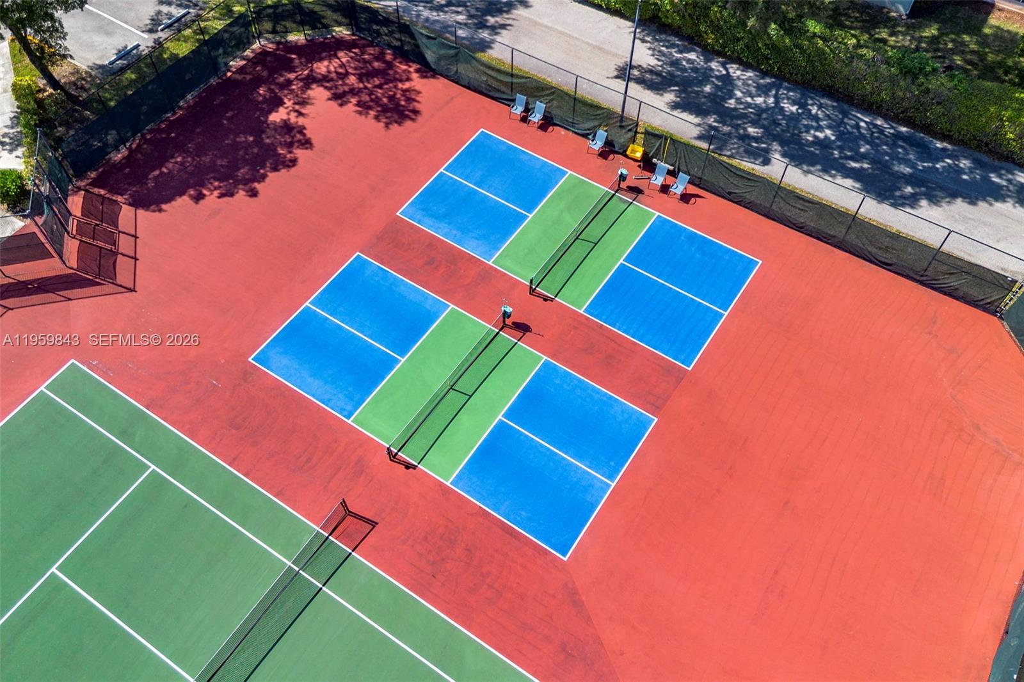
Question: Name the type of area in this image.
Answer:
sports ground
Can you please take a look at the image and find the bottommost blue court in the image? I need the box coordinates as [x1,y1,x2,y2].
[249,253,657,560]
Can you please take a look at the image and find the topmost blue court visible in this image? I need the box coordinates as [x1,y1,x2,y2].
[397,129,761,369]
